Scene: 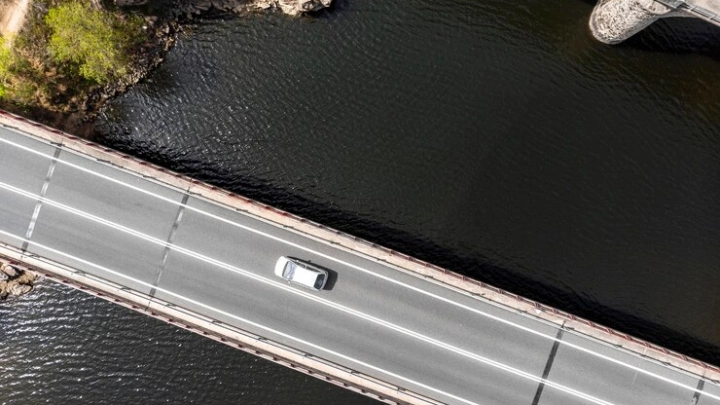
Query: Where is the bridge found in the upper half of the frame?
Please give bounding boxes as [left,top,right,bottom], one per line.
[589,0,720,45]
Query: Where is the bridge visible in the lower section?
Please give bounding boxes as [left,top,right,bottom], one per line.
[0,107,720,405]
